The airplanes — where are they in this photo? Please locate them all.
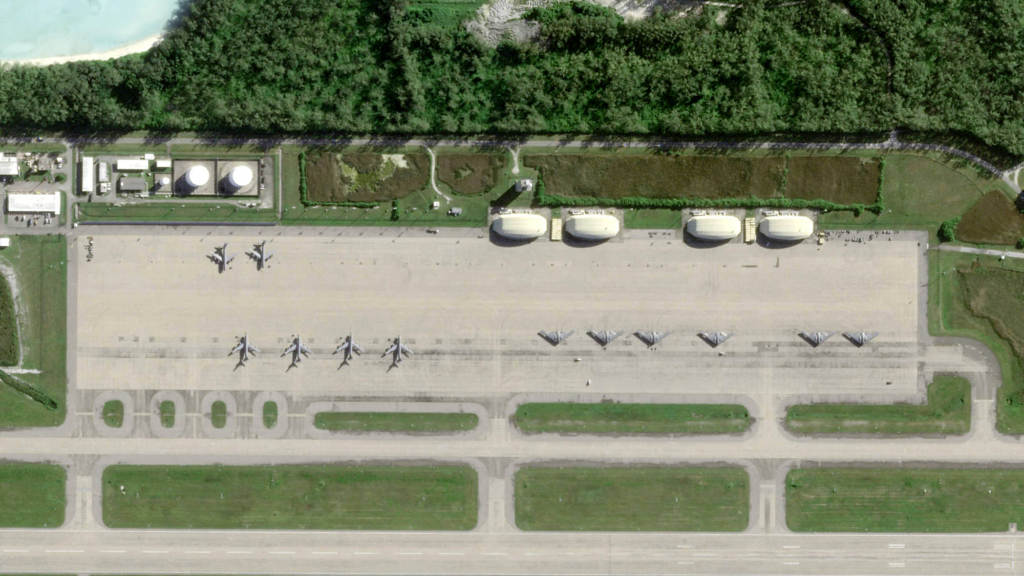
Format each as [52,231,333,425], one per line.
[234,334,260,362]
[212,242,238,271]
[541,329,574,344]
[251,240,276,268]
[638,330,670,343]
[702,331,733,345]
[591,330,623,343]
[339,334,364,362]
[286,336,312,364]
[847,330,879,344]
[387,336,413,364]
[803,330,834,344]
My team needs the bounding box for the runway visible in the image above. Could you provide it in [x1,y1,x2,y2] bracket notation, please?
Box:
[0,529,1024,575]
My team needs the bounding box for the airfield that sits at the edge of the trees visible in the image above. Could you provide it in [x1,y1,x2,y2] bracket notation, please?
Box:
[0,207,1024,576]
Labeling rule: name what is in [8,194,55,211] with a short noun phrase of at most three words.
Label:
building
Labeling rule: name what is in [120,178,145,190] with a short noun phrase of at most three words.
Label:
building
